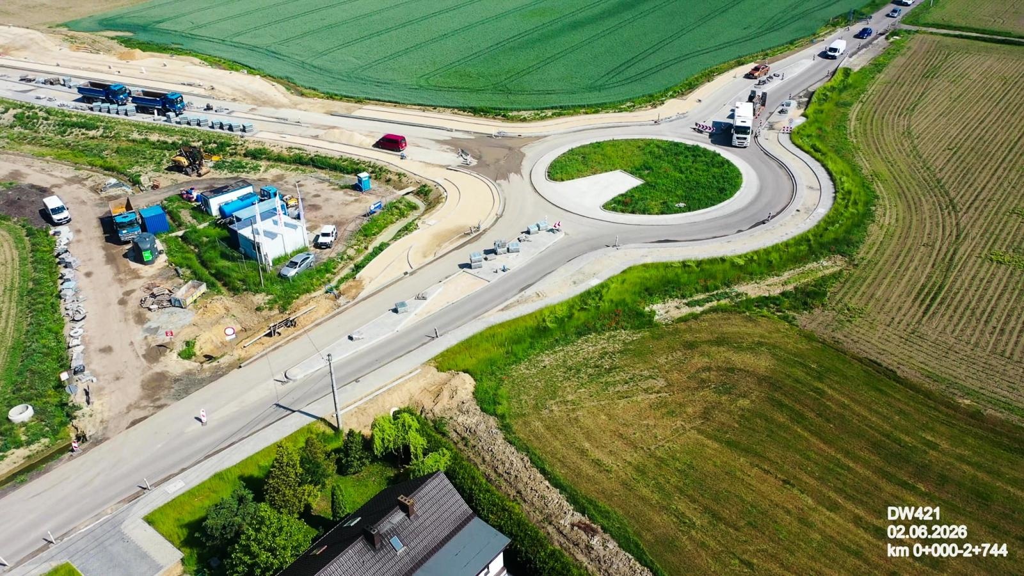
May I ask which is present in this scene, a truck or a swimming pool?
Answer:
truck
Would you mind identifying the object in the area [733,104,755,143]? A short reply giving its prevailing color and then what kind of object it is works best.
white truck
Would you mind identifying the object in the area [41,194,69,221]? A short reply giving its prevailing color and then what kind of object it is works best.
white vehicle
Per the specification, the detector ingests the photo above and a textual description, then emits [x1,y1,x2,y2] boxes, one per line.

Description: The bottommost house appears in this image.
[273,468,513,576]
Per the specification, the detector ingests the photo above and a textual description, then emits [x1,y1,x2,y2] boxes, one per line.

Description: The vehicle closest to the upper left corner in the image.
[78,81,131,104]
